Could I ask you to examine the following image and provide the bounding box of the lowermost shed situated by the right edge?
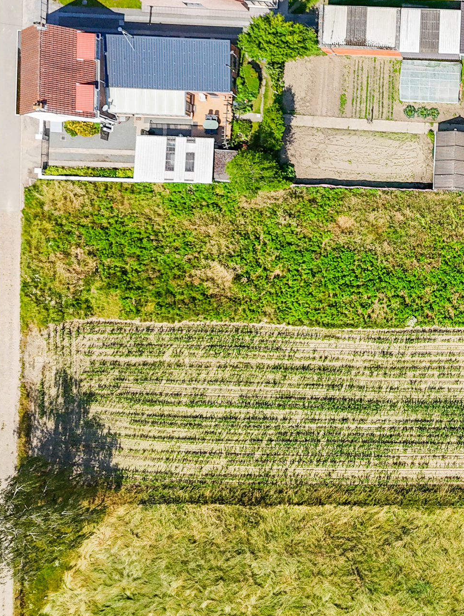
[432,129,464,192]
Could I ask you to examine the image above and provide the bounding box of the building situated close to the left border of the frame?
[15,20,115,125]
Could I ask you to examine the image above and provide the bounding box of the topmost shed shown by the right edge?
[319,2,464,62]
